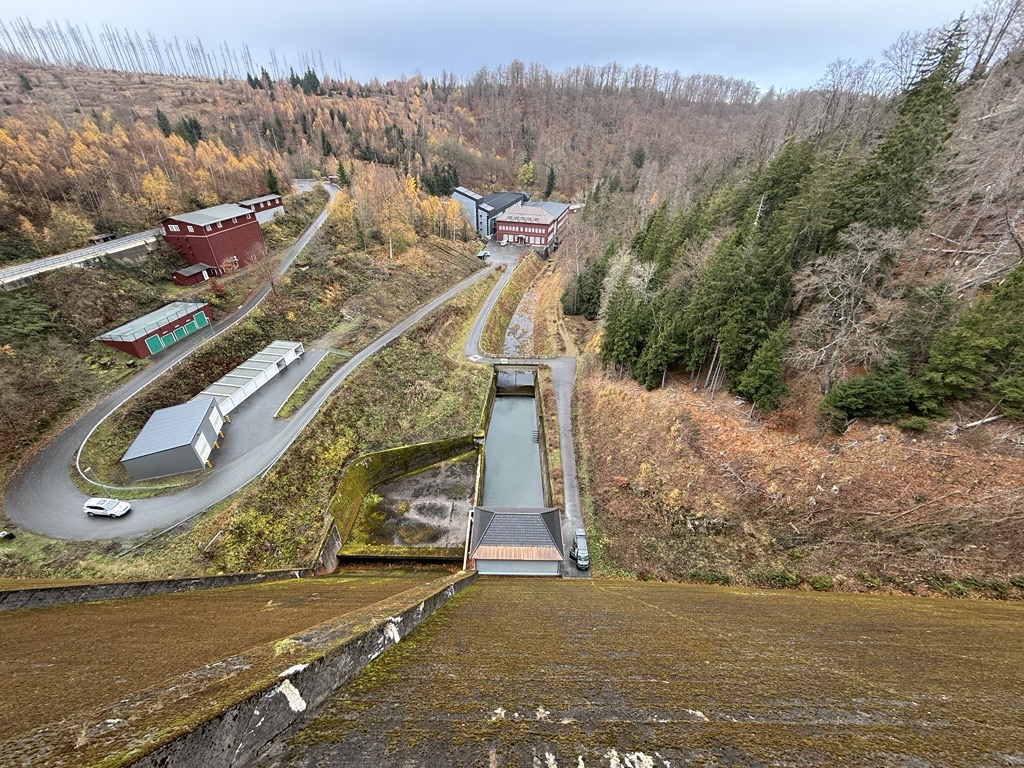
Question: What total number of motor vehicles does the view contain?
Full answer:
There are 2 motor vehicles in the image.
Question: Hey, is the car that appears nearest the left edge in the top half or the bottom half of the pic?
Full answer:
You can find the car that appears nearest the left edge in the bottom half.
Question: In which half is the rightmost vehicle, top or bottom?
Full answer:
The bottom half of the photo is where the rightmost vehicle is.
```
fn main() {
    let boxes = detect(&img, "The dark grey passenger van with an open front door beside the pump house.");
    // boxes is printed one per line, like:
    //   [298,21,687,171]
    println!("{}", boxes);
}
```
[569,532,593,569]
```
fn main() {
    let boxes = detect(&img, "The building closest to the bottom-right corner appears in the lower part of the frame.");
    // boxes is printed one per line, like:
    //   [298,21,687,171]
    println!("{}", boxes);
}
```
[469,507,568,575]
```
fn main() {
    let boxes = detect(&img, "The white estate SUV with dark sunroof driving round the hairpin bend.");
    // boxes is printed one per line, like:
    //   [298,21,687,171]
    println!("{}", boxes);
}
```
[78,497,129,522]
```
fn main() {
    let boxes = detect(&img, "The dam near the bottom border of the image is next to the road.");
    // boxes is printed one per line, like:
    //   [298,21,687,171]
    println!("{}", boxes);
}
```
[0,566,1024,768]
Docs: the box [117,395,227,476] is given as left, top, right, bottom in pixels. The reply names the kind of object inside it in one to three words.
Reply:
building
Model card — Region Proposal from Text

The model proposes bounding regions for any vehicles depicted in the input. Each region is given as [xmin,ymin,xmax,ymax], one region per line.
[78,497,129,522]
[569,532,593,569]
